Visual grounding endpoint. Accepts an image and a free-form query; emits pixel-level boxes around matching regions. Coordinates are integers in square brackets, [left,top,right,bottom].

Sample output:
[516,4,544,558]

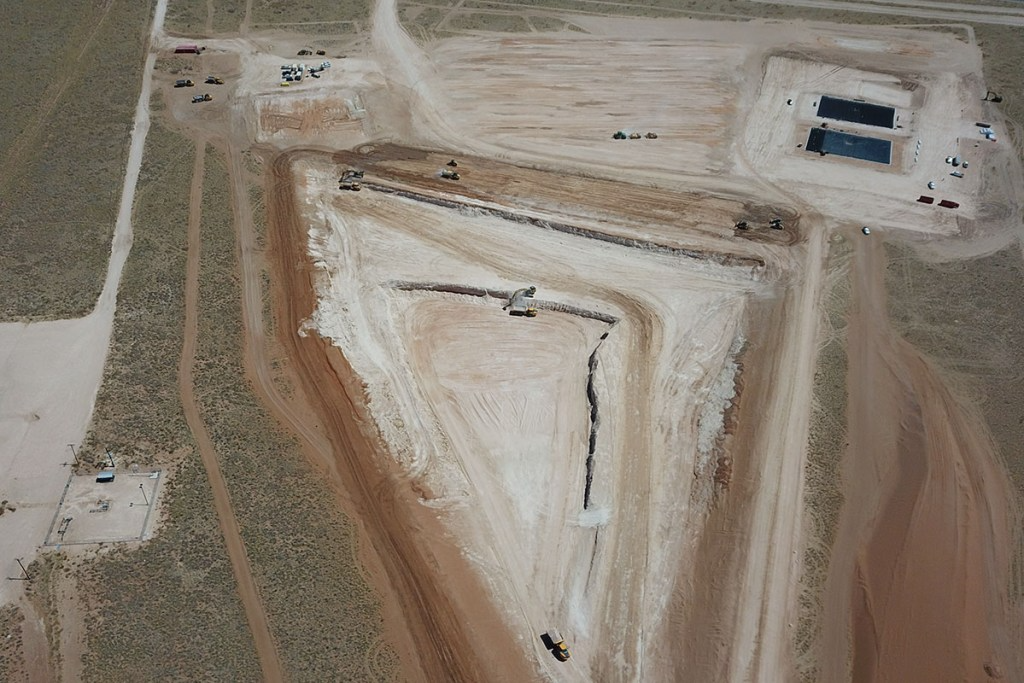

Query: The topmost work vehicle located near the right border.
[982,90,1008,102]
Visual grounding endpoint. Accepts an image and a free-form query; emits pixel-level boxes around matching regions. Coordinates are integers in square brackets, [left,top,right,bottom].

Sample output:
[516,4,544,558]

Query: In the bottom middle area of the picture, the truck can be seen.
[543,624,572,662]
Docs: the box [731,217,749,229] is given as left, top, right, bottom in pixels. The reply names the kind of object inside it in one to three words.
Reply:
vehicle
